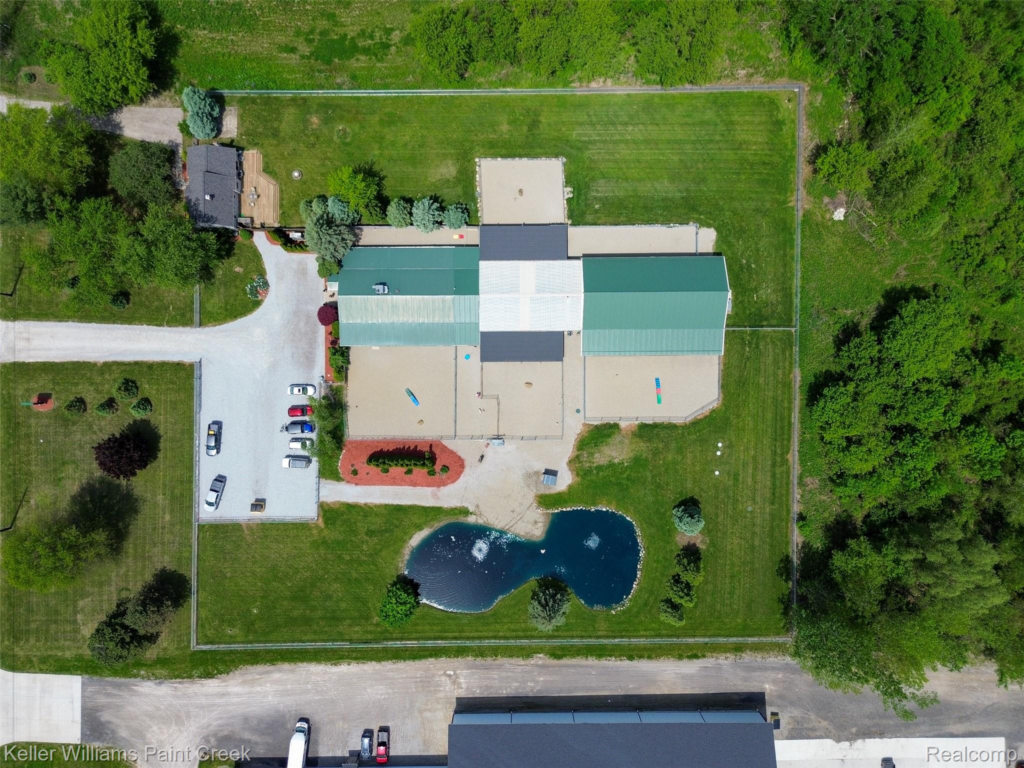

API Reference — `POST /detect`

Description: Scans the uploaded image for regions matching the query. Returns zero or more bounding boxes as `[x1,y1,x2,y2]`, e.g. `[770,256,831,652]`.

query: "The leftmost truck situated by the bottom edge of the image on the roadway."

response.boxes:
[287,716,311,768]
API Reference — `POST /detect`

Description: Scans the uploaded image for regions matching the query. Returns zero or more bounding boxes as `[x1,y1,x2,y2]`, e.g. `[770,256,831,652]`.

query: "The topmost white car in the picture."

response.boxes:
[288,383,318,397]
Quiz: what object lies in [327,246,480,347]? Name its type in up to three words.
building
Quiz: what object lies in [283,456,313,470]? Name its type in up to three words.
car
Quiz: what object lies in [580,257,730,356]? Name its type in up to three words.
barn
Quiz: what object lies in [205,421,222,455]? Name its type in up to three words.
vehicle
